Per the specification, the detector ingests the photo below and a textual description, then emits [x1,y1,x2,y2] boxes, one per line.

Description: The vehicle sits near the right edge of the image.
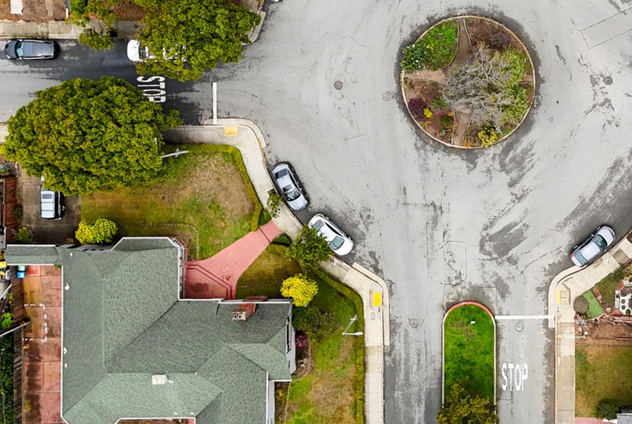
[567,221,618,269]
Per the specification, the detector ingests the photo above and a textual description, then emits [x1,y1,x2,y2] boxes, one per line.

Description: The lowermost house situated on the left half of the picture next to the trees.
[4,235,296,424]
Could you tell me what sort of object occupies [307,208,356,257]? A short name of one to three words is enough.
car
